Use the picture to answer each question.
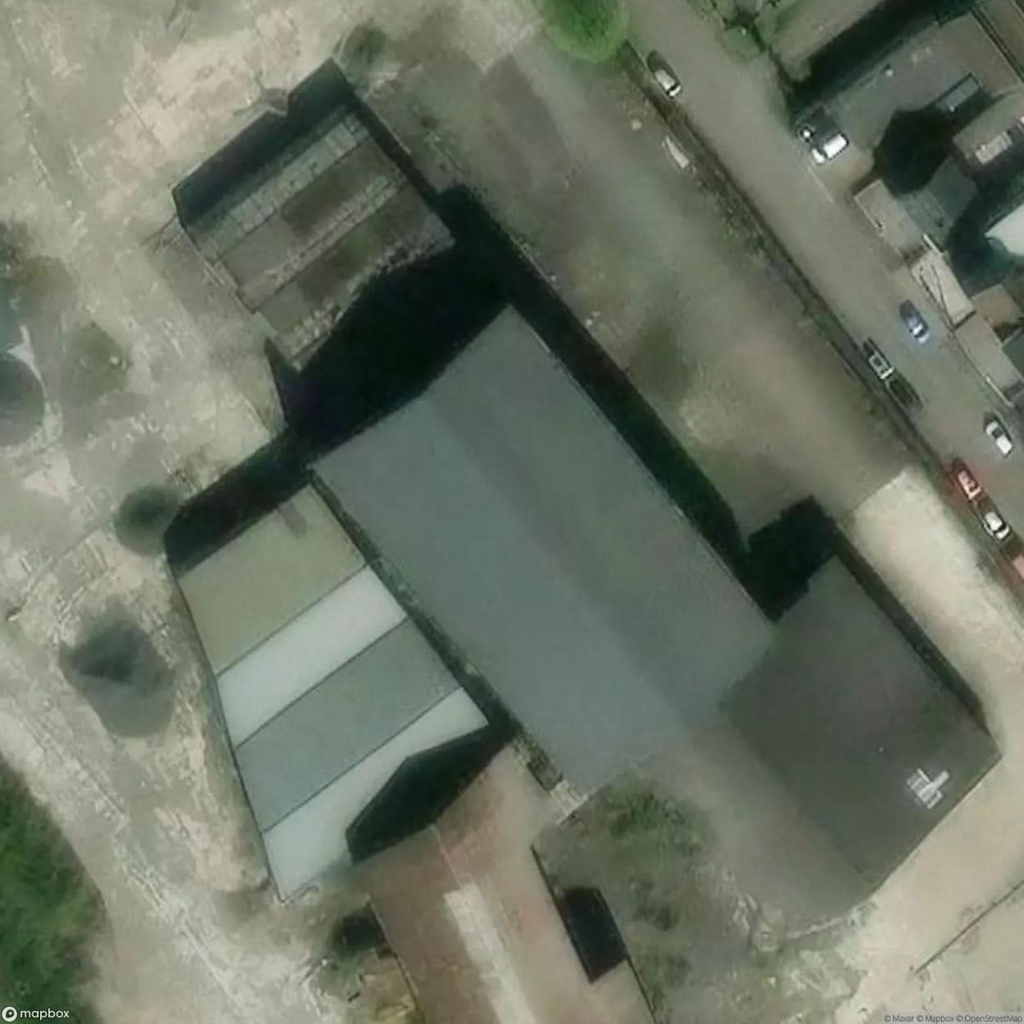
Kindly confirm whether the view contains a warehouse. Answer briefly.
Yes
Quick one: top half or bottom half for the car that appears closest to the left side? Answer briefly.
top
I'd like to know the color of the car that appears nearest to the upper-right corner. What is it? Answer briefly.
white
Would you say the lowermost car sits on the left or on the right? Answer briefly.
right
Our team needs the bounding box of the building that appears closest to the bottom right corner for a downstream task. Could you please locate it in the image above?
[721,557,1000,891]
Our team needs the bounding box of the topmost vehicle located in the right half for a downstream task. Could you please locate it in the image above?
[647,57,683,100]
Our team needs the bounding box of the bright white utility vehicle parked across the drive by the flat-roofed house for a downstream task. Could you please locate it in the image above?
[807,130,851,166]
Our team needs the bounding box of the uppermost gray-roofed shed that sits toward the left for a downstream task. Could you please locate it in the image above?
[185,102,456,367]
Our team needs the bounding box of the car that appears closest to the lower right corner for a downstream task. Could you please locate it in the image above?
[1002,546,1024,586]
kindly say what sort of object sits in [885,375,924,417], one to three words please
car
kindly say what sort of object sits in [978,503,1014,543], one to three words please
car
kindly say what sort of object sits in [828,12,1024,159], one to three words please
house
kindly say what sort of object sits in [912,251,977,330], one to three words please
building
